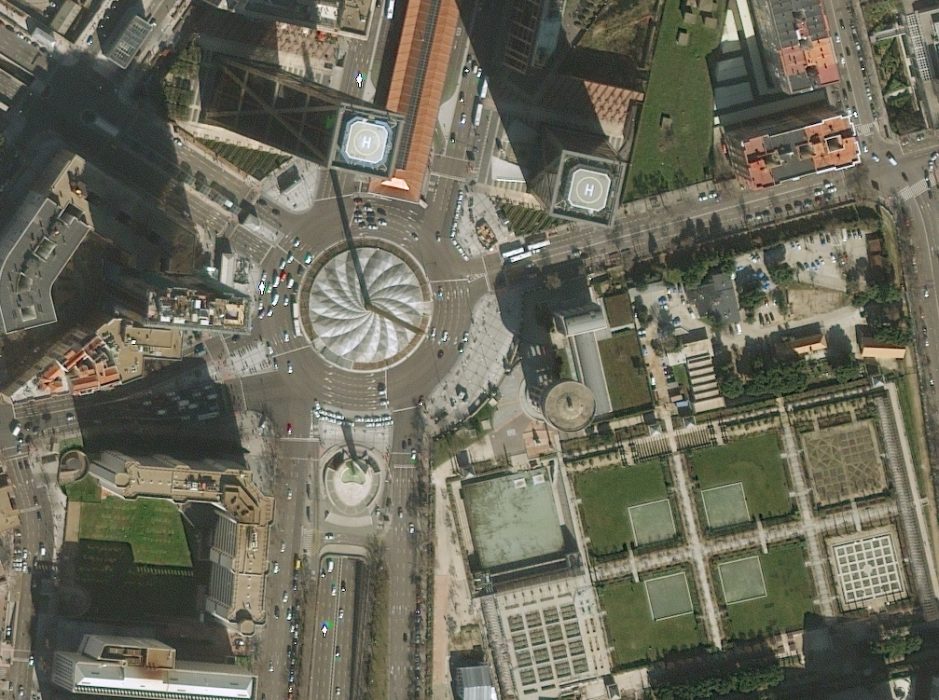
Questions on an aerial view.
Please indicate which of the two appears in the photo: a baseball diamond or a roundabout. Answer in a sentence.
This aerial view contains a roundabout.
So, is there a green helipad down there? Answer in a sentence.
No, no green helipad is visible in the view.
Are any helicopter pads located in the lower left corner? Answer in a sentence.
No, no helicopter pad appears in the lower left corner.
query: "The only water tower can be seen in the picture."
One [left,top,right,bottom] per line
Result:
[517,367,596,432]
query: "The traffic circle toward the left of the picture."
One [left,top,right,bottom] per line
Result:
[298,236,435,372]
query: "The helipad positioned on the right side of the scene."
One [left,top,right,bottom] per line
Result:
[567,163,613,211]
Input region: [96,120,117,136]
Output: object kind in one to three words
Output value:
vehicle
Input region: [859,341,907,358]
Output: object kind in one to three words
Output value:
house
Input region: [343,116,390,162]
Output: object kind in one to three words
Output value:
helipad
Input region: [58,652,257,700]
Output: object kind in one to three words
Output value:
building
